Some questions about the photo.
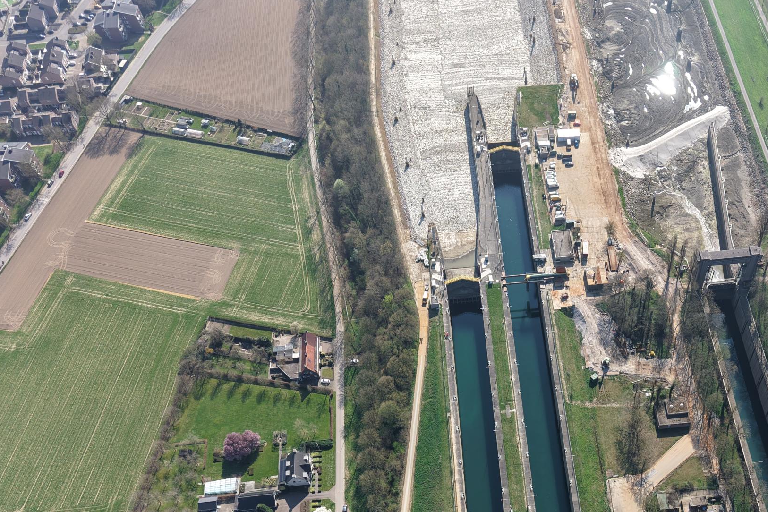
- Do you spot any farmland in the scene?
Yes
